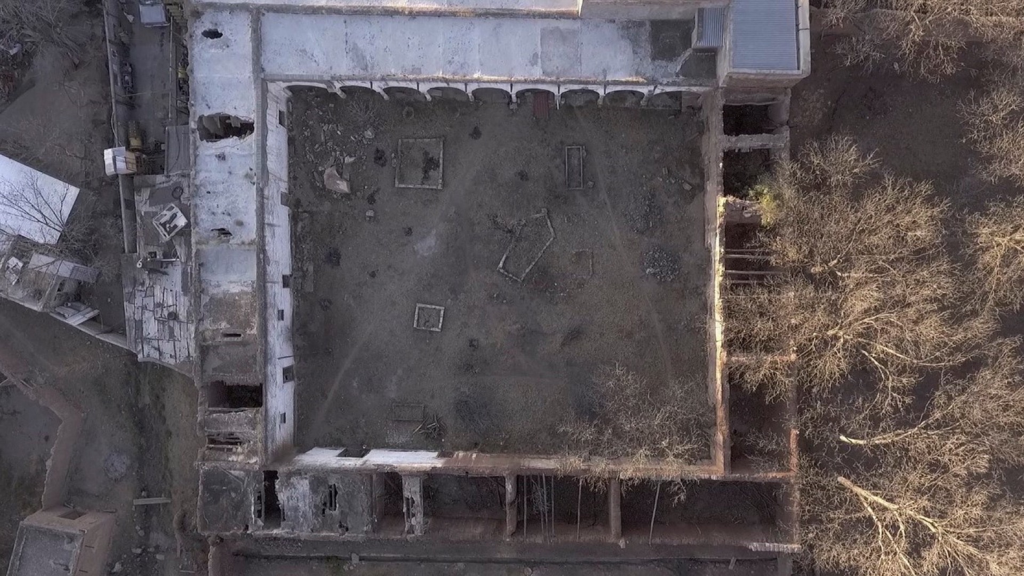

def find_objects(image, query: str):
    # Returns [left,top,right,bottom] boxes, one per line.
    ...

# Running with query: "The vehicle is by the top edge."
[136,0,172,28]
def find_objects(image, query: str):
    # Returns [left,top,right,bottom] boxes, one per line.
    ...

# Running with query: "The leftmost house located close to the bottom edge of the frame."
[4,503,120,576]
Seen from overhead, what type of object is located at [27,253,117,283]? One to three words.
shed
